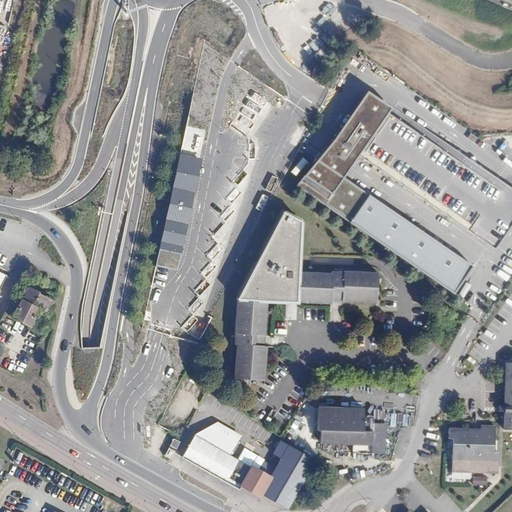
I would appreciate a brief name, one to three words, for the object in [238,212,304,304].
building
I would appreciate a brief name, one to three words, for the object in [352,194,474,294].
building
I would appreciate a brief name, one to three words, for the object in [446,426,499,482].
house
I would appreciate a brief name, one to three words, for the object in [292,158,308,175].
vehicle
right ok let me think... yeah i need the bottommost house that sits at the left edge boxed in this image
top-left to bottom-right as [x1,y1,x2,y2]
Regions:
[12,286,56,328]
